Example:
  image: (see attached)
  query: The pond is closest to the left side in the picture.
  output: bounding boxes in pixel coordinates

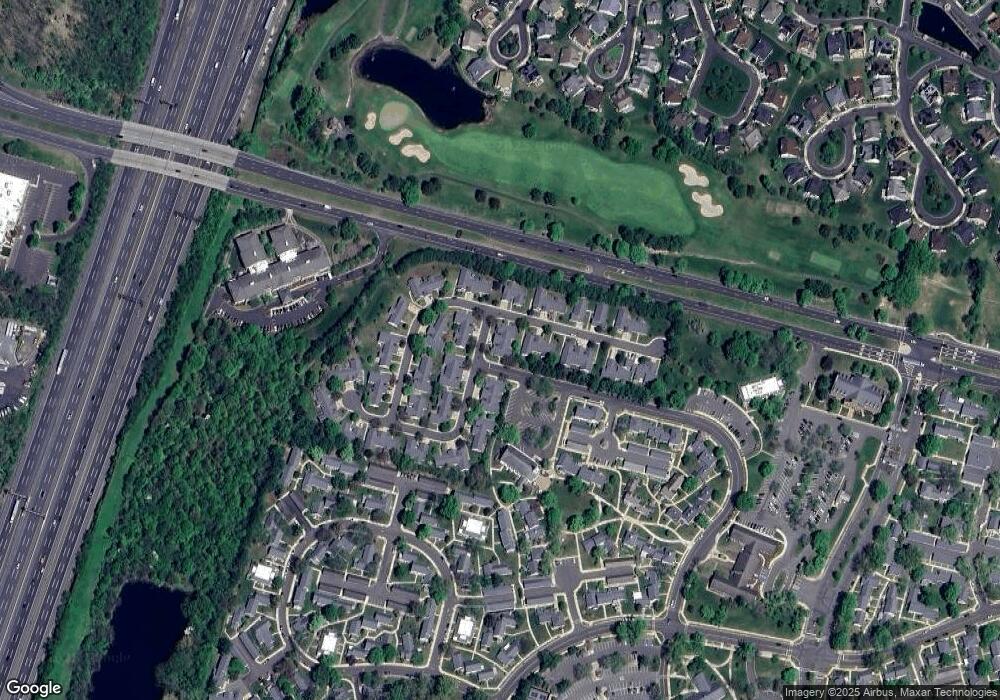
[89,580,187,700]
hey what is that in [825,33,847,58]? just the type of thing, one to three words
house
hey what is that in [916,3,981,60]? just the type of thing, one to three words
pond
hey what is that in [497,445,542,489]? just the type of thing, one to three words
building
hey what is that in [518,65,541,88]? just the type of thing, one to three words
house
